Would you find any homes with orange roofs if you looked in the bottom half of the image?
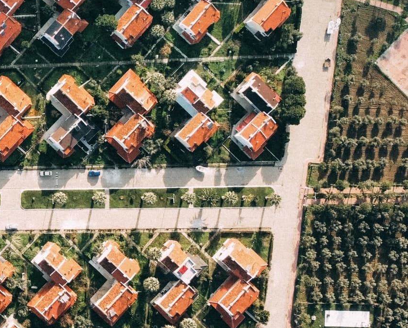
Yes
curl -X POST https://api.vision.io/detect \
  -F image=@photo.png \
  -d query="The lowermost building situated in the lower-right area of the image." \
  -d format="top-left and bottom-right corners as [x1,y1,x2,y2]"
[321,310,369,327]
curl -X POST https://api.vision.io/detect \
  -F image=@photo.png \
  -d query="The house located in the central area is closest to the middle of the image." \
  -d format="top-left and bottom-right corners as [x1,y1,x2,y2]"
[169,114,216,152]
